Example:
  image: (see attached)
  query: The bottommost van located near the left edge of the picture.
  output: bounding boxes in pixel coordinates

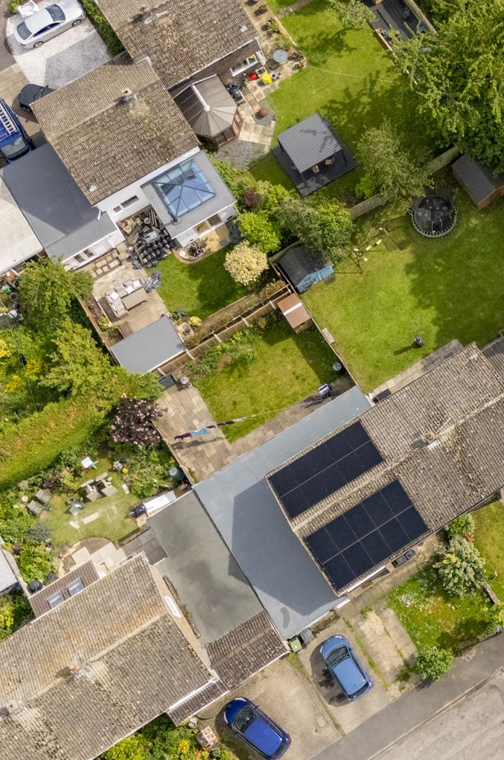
[0,95,32,166]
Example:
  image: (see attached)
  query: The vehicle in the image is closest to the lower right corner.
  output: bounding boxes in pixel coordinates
[321,633,374,705]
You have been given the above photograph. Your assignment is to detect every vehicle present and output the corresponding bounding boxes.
[19,76,65,112]
[0,95,32,166]
[13,5,89,53]
[321,633,374,705]
[227,695,292,760]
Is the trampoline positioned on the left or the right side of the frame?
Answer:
right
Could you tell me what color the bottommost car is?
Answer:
blue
